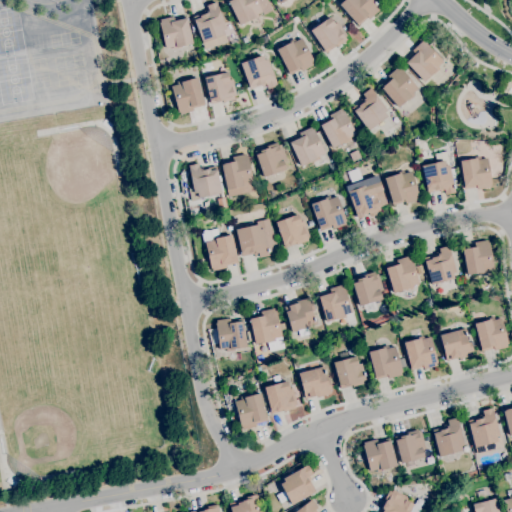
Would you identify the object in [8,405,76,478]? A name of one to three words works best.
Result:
baseball field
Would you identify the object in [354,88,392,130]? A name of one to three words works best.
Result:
house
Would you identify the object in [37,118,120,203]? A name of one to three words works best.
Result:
baseball field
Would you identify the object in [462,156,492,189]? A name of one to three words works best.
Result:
house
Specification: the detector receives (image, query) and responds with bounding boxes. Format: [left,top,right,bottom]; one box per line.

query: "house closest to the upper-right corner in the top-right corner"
[408,40,448,81]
